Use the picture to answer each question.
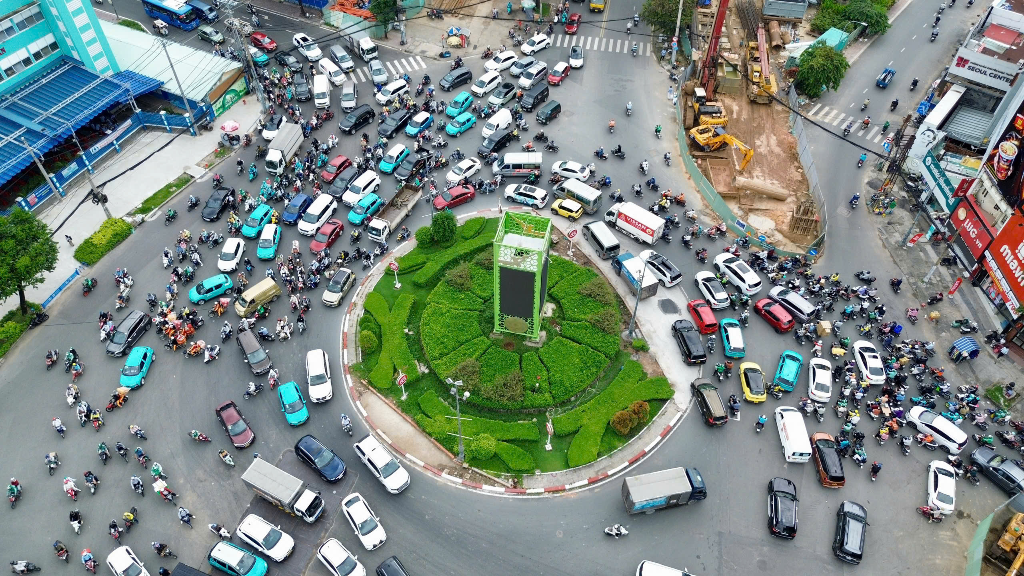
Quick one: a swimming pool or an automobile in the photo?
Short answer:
automobile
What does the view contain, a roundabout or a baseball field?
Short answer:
roundabout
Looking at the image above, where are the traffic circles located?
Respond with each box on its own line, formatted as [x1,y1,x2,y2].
[344,206,700,494]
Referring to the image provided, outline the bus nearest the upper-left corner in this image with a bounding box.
[160,1,195,32]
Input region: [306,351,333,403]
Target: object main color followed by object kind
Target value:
white car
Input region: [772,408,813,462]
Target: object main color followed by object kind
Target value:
white van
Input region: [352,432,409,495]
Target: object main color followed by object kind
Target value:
white truck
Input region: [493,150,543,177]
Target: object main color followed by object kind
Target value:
white vehicle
